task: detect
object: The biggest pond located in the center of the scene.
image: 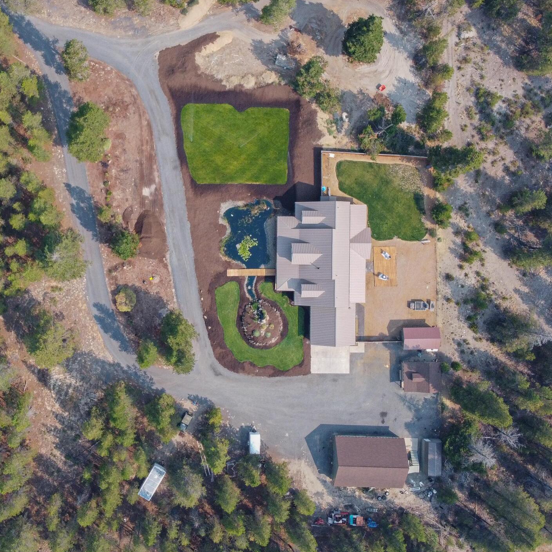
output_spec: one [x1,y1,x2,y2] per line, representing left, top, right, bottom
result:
[225,199,272,267]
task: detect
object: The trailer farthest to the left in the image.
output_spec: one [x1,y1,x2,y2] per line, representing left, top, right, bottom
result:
[135,457,169,504]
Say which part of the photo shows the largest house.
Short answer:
center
